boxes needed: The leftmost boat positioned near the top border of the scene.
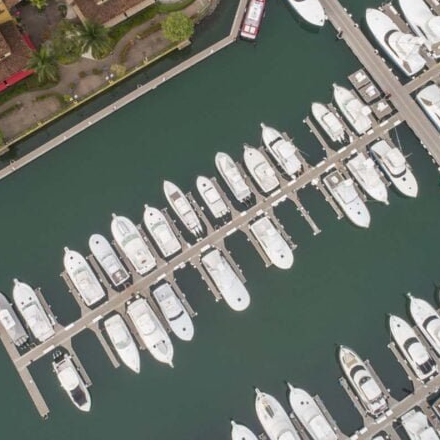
[240,0,264,40]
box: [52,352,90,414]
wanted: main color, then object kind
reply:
white boat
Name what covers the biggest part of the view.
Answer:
water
